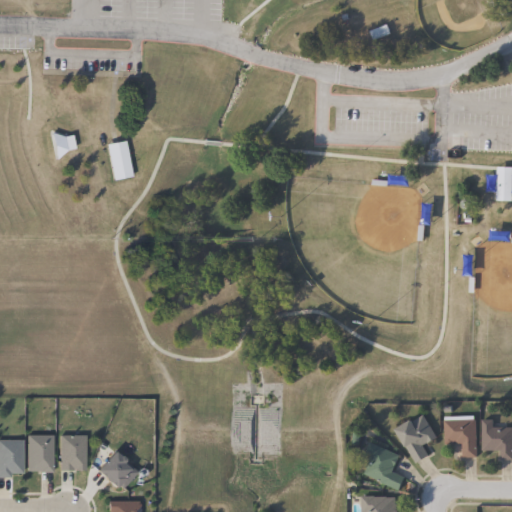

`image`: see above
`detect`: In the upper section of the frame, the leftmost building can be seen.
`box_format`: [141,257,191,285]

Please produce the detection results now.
[52,132,77,159]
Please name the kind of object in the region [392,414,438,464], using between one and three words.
house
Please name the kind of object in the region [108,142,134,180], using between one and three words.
barn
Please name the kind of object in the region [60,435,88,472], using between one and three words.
house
